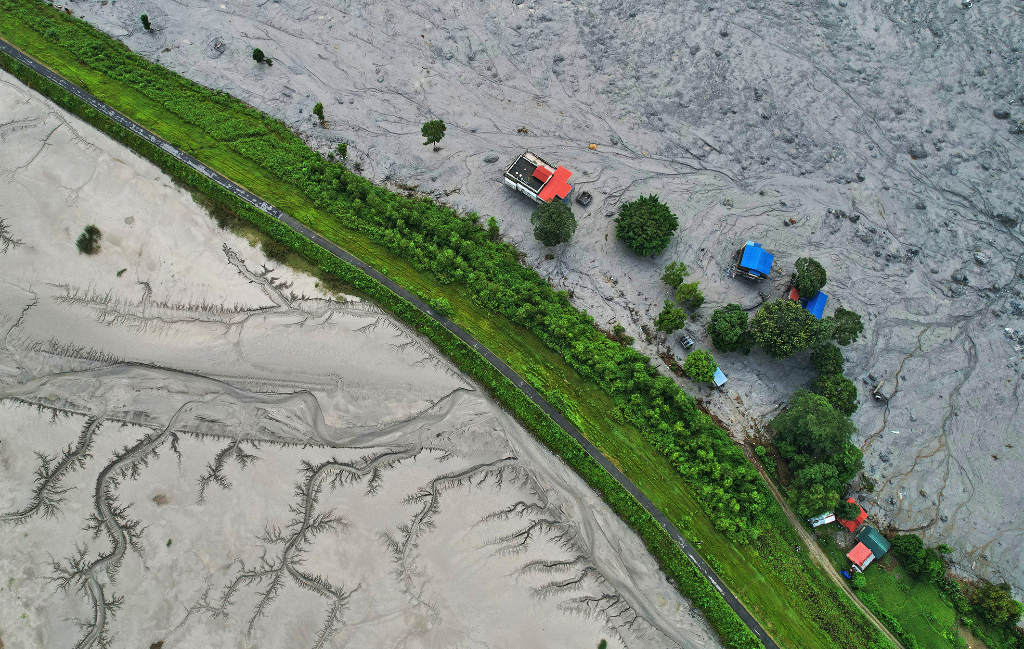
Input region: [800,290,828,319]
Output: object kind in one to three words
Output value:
house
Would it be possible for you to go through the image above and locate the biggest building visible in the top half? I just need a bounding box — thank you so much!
[502,149,573,205]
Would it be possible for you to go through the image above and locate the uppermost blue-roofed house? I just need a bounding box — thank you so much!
[734,241,774,283]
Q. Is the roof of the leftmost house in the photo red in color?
Yes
